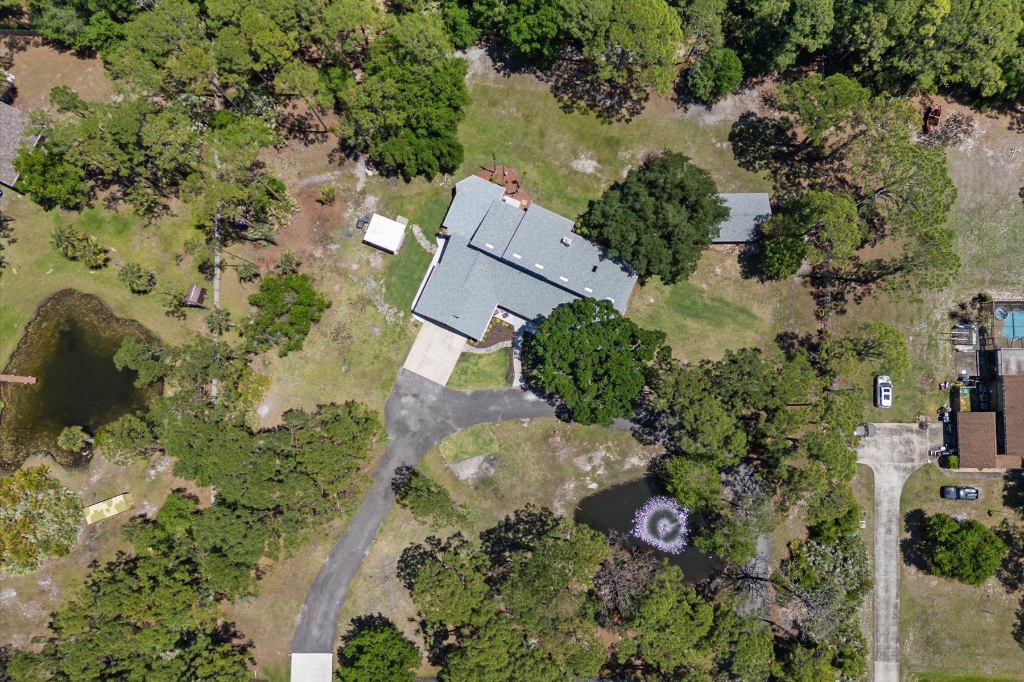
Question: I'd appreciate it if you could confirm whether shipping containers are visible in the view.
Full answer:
Yes, a shipping container is visible in the scene.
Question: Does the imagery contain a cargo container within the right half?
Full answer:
No, I can find no cargo container within the right half.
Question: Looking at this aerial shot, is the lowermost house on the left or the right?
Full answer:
The lowermost house appears in the right half of the scene.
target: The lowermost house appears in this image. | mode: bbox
[949,349,1024,468]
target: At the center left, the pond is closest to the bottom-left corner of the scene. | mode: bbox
[0,289,167,476]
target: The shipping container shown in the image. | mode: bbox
[82,490,138,524]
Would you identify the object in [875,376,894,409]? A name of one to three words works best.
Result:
car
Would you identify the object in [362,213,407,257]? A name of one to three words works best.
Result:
shed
